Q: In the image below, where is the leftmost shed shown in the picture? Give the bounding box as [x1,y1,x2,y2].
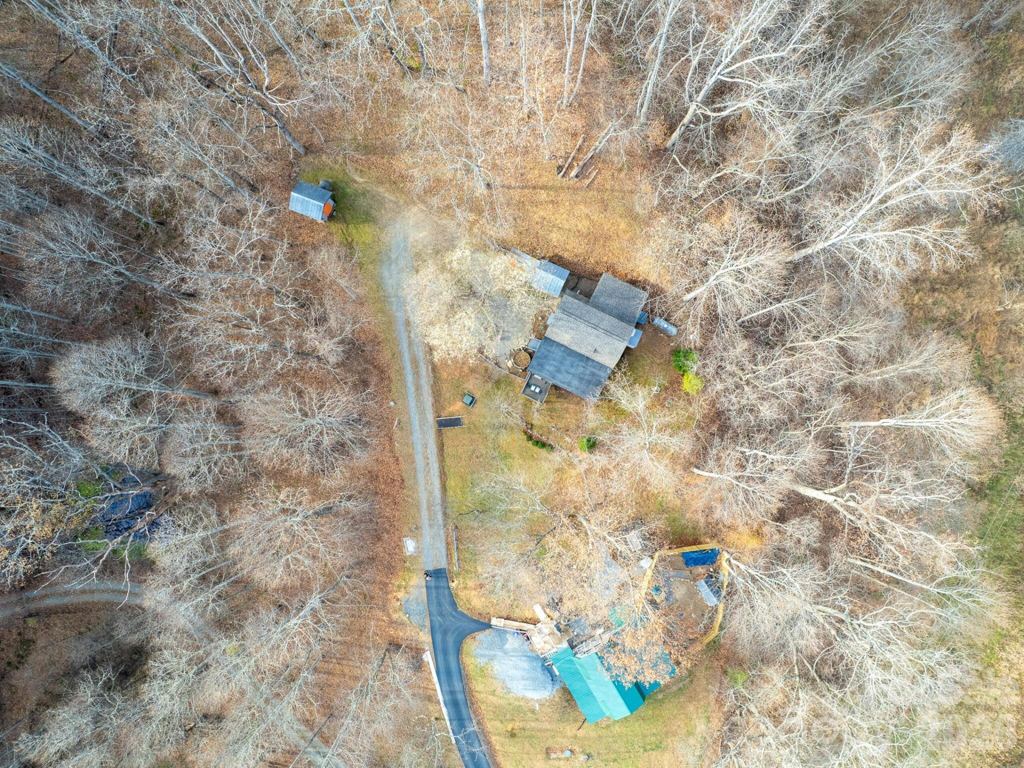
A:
[289,181,339,224]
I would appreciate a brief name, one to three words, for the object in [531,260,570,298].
shed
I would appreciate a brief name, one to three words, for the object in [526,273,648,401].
house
